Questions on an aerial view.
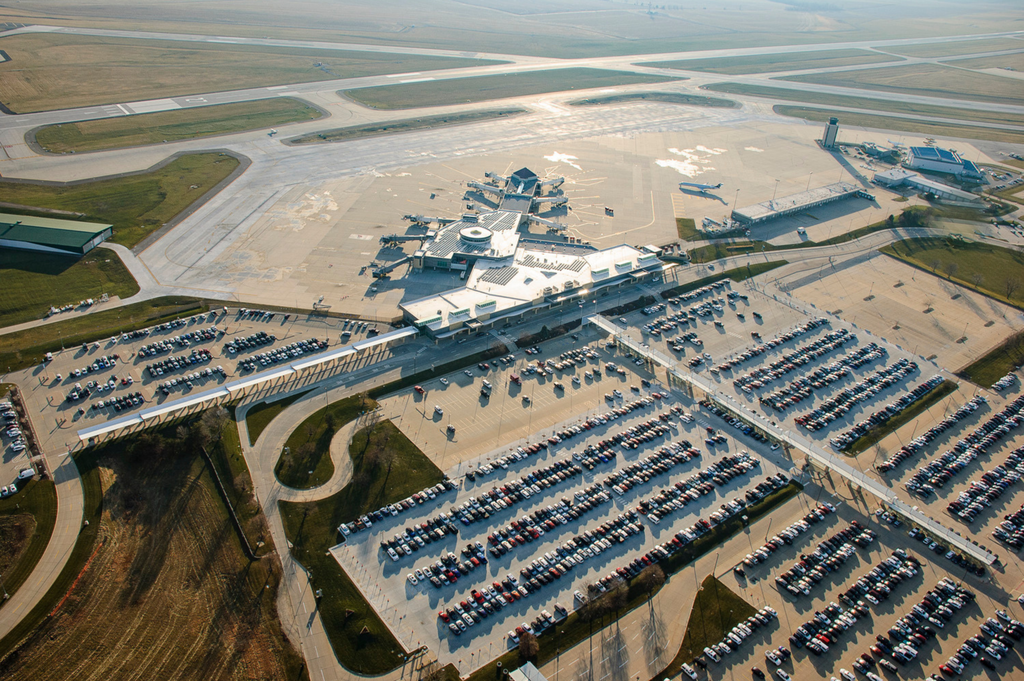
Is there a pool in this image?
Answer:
No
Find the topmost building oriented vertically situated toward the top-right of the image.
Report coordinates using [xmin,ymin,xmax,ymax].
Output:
[822,110,842,146]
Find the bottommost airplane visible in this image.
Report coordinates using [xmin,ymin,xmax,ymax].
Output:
[677,177,726,190]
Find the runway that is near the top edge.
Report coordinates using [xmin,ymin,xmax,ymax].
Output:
[0,31,1024,129]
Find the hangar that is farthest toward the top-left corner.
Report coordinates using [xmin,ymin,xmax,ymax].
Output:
[0,213,115,256]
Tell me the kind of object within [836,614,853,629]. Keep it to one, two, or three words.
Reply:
vehicle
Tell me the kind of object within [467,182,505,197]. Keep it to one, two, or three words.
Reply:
jet bridge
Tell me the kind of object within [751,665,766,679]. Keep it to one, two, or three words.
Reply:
car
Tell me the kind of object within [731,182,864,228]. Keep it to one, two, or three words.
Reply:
building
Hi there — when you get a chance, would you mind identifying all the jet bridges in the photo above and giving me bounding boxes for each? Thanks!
[527,212,569,232]
[467,182,505,197]
[484,172,509,186]
[533,196,570,207]
[372,253,413,278]
[537,176,567,189]
[380,234,427,247]
[409,215,462,228]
